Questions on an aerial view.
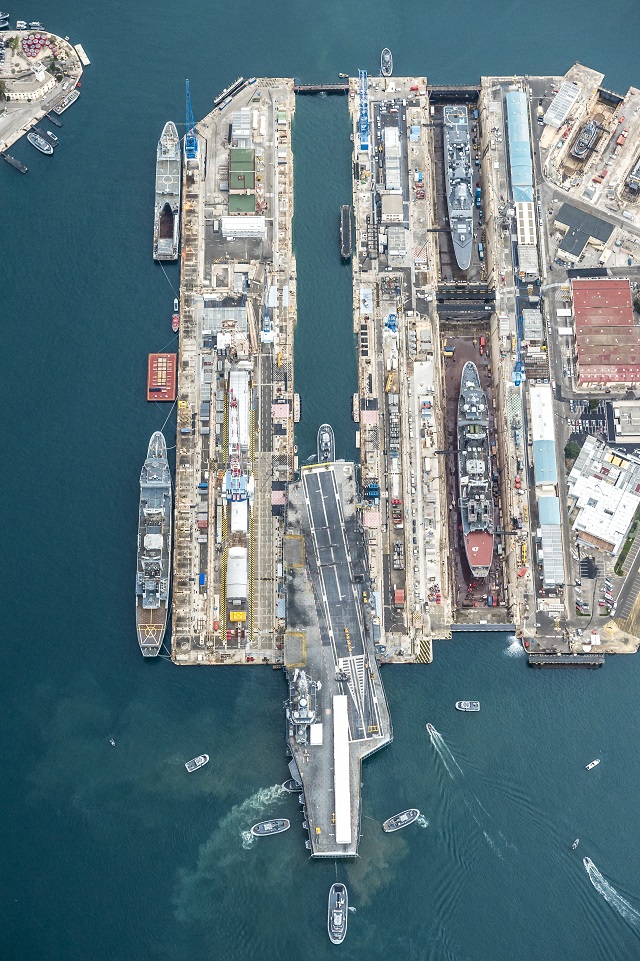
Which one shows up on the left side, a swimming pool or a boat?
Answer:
boat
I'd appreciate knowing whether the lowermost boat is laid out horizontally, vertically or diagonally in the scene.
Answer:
vertically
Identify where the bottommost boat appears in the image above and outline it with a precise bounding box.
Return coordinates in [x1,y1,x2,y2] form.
[327,883,349,943]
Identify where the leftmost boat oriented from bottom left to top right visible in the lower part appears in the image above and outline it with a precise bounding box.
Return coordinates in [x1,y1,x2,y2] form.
[183,754,210,775]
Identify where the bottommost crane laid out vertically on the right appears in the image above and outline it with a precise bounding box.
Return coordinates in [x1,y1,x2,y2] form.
[510,299,530,395]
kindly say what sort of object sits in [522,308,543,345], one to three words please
building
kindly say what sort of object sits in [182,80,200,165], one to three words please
crane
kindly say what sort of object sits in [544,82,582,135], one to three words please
building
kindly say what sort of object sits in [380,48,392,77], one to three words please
boat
